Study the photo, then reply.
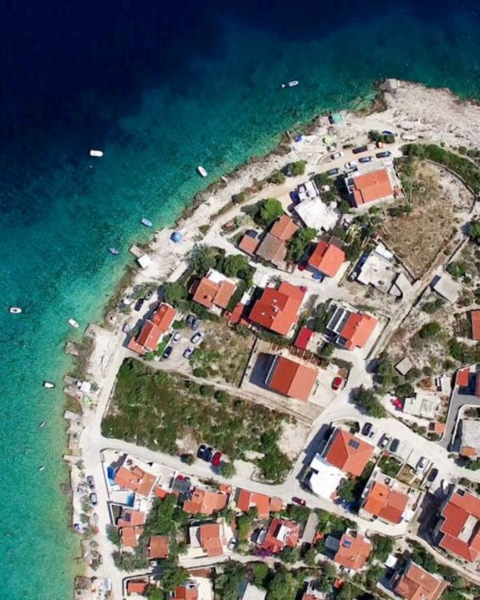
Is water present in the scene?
Yes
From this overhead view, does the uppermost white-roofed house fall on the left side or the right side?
right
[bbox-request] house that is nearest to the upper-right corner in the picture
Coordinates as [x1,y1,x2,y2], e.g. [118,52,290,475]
[346,168,404,207]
